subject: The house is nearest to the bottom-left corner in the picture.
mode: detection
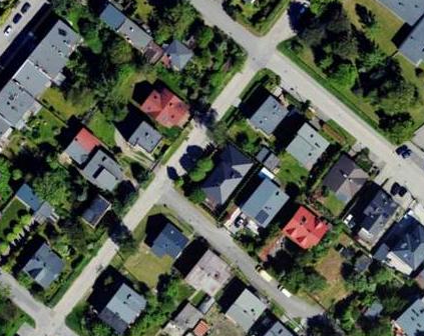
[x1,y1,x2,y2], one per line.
[24,244,64,288]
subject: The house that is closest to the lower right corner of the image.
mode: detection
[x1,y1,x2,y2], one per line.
[395,298,424,336]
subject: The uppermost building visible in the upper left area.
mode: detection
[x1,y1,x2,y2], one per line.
[101,3,125,30]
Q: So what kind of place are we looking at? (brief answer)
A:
residential area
